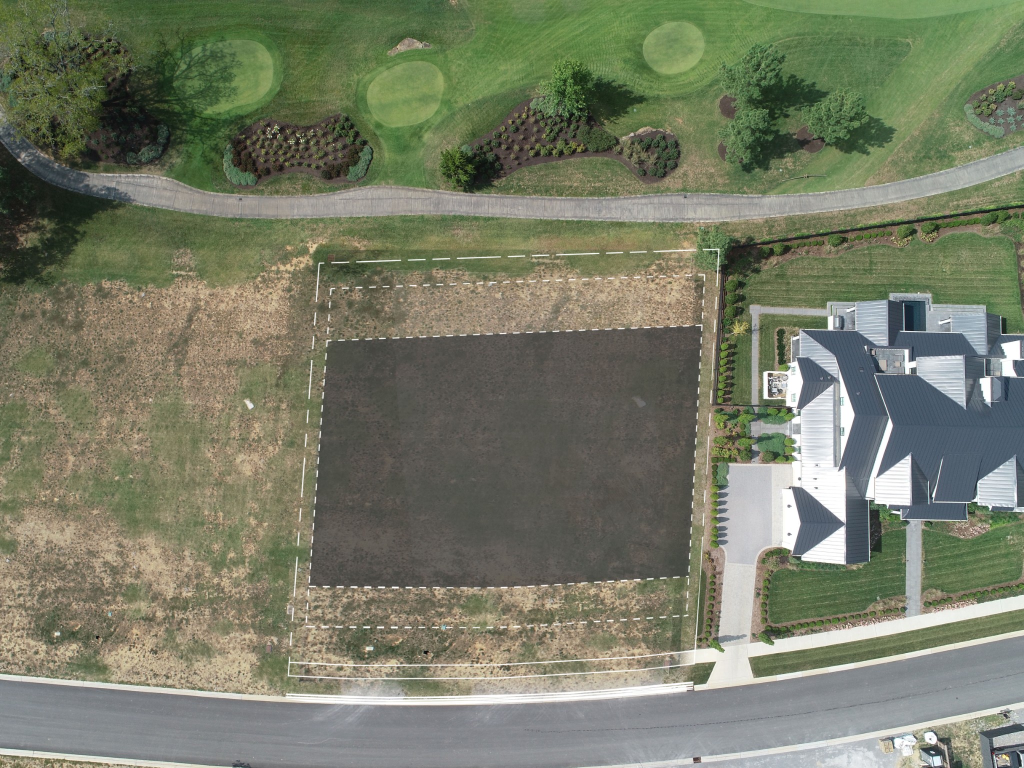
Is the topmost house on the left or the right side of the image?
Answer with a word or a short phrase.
right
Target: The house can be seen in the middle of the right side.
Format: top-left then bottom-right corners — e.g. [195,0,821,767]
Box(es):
[781,299,1024,566]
